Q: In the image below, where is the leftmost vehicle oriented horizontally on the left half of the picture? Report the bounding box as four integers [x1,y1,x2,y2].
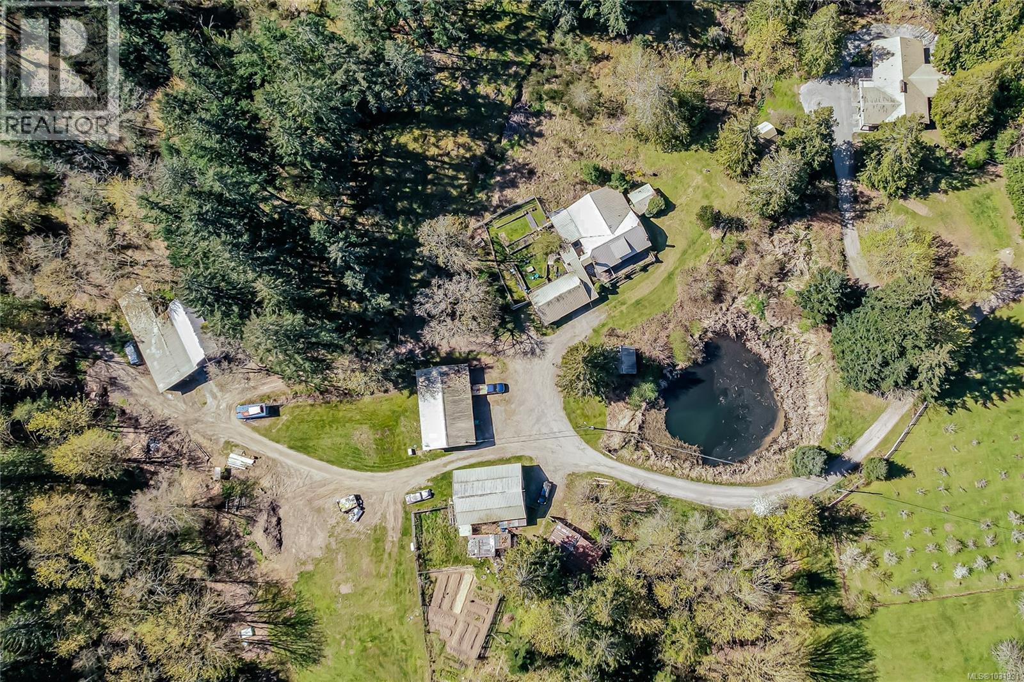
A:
[235,404,272,420]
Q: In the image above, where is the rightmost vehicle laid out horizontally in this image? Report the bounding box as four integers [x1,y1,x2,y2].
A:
[471,383,509,396]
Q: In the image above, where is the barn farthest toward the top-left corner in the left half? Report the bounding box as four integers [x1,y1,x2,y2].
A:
[119,286,221,392]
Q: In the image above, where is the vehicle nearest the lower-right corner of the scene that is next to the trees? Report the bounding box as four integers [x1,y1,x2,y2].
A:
[537,479,552,507]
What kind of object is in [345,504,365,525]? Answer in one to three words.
vehicle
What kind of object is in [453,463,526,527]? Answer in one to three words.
barn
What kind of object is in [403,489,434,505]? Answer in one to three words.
car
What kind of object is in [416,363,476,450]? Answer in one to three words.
barn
